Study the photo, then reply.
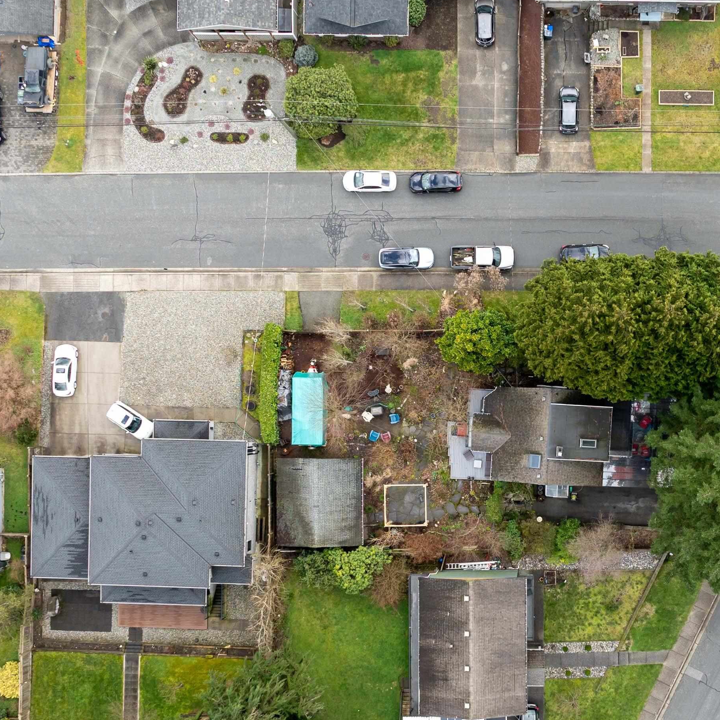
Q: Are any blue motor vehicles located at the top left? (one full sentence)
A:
No, there is no blue motor vehicle at the top left.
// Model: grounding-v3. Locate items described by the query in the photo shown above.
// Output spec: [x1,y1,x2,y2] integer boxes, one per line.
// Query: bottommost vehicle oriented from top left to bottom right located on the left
[106,398,153,441]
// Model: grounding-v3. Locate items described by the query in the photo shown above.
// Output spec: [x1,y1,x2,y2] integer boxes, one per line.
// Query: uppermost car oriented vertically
[472,0,497,51]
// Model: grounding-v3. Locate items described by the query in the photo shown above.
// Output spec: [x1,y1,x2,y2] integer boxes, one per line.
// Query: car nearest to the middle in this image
[379,245,434,270]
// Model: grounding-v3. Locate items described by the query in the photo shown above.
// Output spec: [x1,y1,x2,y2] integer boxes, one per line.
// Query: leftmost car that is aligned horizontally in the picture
[343,168,398,194]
